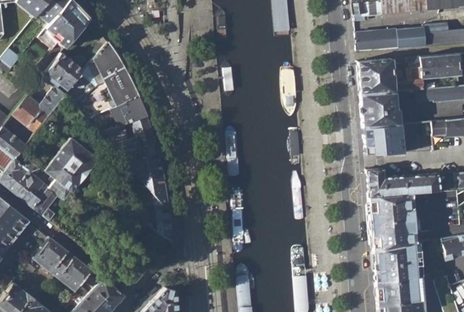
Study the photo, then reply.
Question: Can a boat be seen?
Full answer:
Yes, the picture does show a boat.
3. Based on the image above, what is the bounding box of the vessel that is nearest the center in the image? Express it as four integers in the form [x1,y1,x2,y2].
[226,122,241,176]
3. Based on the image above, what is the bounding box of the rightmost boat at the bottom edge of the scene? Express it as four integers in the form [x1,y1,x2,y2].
[292,242,310,312]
